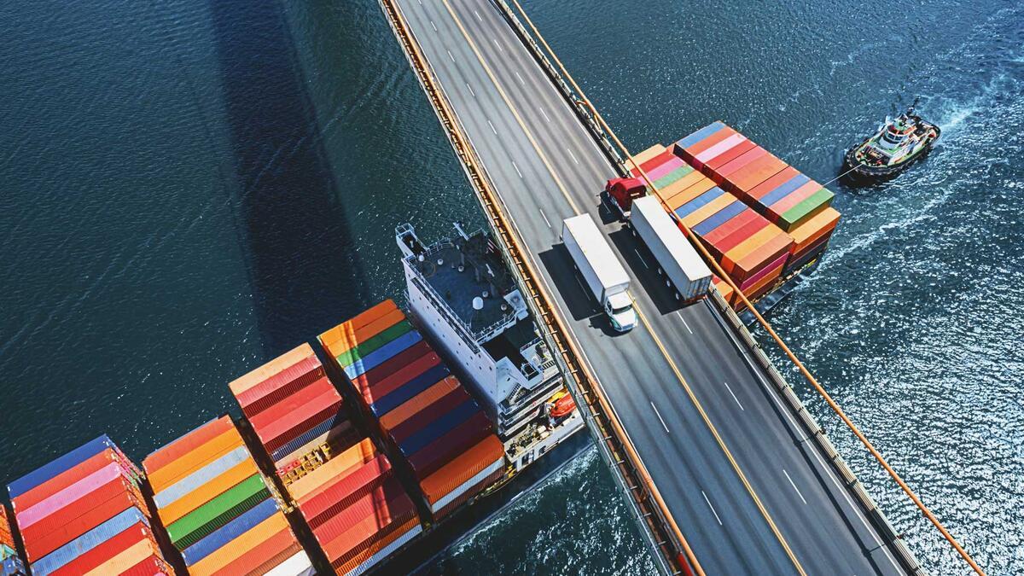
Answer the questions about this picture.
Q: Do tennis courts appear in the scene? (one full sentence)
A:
No, no tennis court can be seen from above.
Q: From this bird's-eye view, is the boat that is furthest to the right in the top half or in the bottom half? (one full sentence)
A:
The top half of the photo is where the boat that is furthest to the right is.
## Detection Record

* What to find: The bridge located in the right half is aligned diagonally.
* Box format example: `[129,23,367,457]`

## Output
[374,0,983,576]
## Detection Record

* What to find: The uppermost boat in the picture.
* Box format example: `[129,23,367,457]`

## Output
[843,98,944,178]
